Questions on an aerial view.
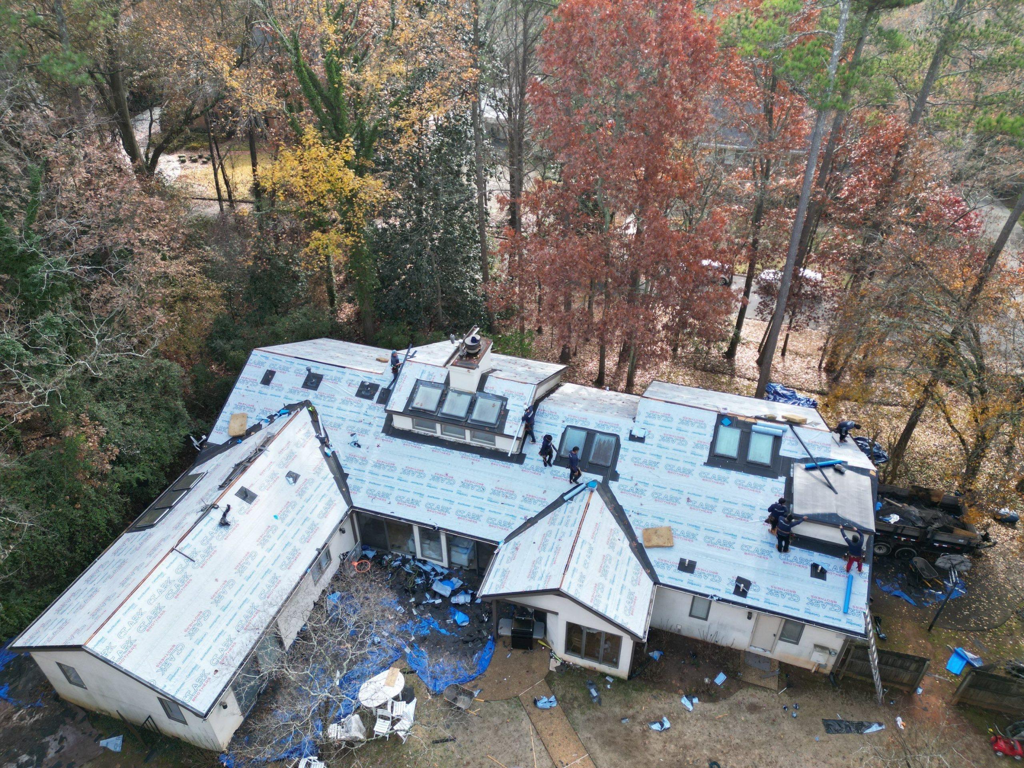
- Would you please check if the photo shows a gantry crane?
No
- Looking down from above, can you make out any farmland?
No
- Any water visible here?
No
